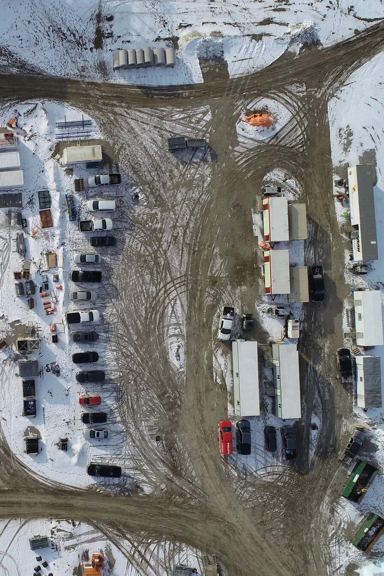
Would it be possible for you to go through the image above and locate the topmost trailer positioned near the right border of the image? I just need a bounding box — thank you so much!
[344,164,378,262]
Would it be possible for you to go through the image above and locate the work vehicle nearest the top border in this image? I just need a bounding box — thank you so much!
[6,113,23,130]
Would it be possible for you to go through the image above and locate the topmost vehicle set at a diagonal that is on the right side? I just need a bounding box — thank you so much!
[337,428,364,465]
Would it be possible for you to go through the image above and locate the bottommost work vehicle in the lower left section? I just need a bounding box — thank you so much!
[89,551,105,572]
